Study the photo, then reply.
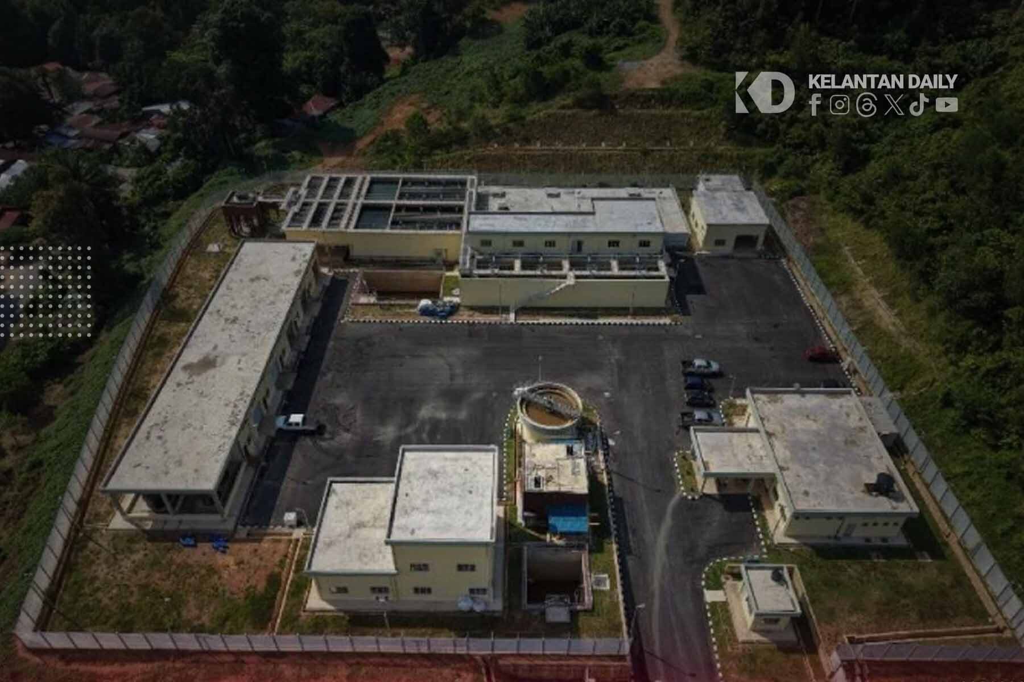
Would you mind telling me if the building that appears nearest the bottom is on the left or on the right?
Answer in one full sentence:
You can find the building that appears nearest the bottom on the right side of the picture.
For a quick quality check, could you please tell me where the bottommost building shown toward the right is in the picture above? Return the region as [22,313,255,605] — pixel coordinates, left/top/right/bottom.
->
[730,566,802,642]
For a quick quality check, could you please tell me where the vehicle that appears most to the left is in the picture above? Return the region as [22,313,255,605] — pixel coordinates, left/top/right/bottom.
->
[275,412,320,431]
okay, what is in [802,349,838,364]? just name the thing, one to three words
car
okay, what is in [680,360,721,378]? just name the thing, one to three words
vehicle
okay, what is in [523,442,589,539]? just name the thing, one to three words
building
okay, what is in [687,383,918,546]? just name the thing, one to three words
building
